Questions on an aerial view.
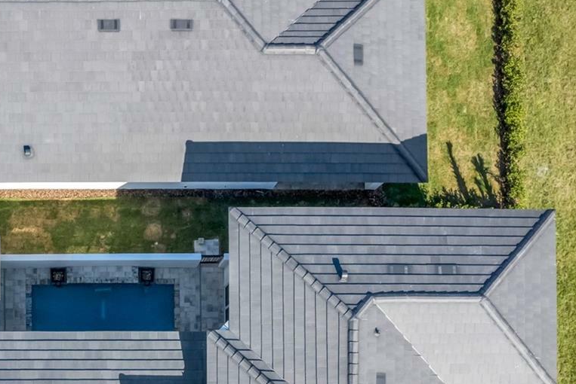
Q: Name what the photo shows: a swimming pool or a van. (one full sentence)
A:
Visible in the photo is a swimming pool.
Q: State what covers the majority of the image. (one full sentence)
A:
What you mostly see from above here is buildings.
